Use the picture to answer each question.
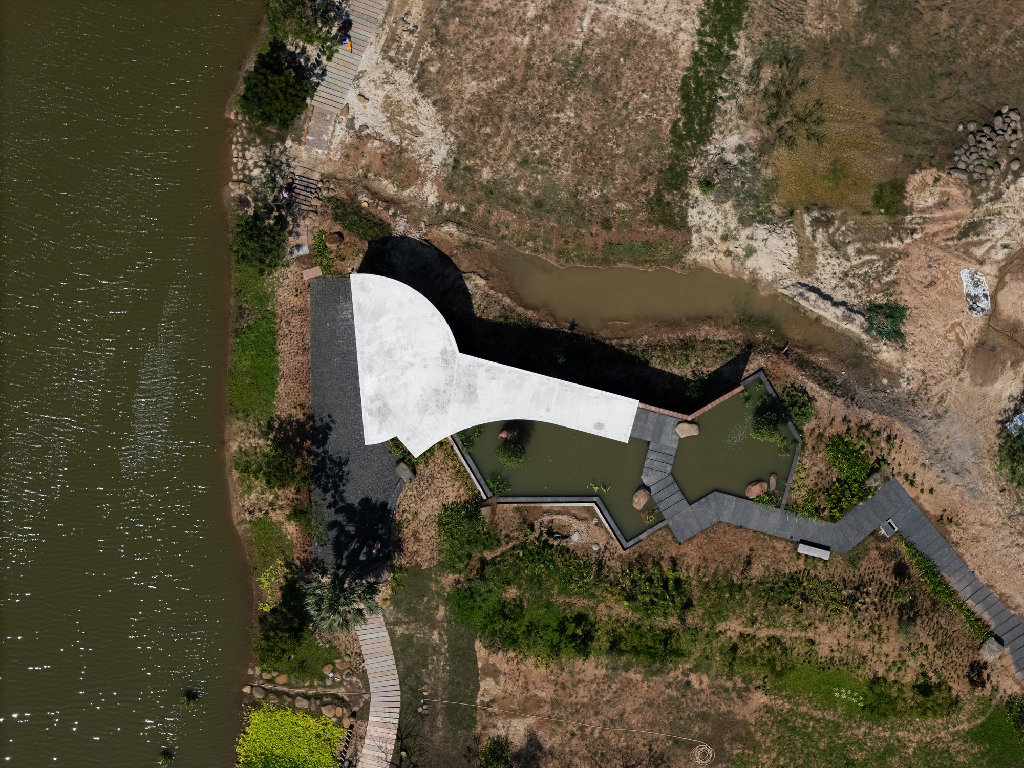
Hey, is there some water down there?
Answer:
Yes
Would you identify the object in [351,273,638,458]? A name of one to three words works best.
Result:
building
